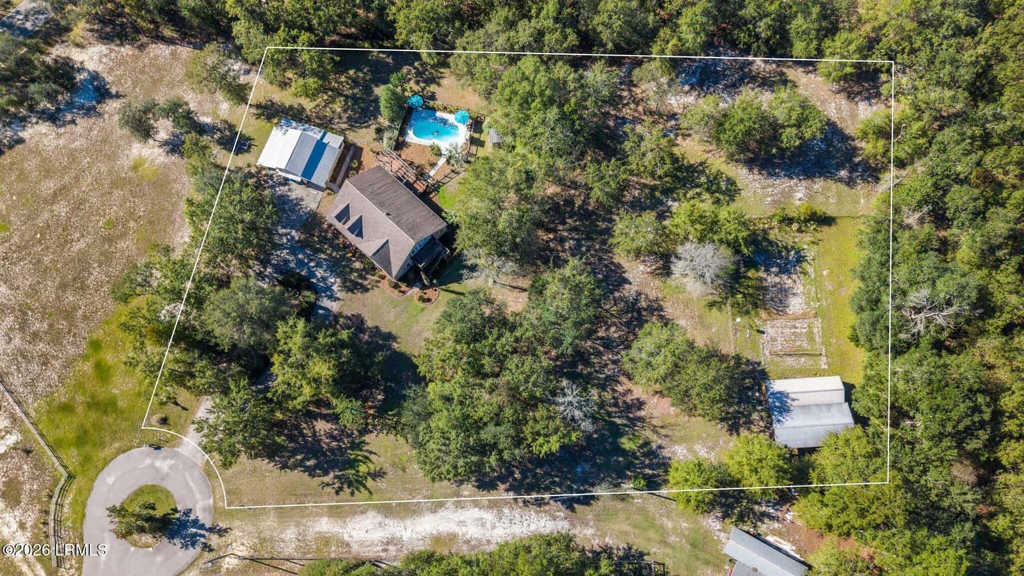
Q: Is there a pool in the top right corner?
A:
No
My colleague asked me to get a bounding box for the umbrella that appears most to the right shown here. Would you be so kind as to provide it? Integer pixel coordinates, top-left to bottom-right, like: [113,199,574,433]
[455,111,470,125]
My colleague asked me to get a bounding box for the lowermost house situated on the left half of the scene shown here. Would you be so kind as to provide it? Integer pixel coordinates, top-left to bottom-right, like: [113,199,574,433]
[325,159,456,279]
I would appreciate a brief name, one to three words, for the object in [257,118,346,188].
building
